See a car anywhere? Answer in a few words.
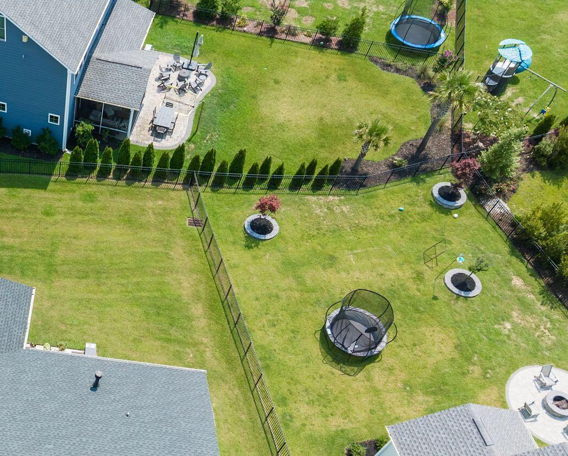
No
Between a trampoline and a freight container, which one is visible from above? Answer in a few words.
trampoline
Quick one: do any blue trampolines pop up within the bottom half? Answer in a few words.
No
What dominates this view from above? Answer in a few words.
grass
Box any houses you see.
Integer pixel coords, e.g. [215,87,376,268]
[0,0,159,153]
[0,278,220,456]
[375,403,568,456]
